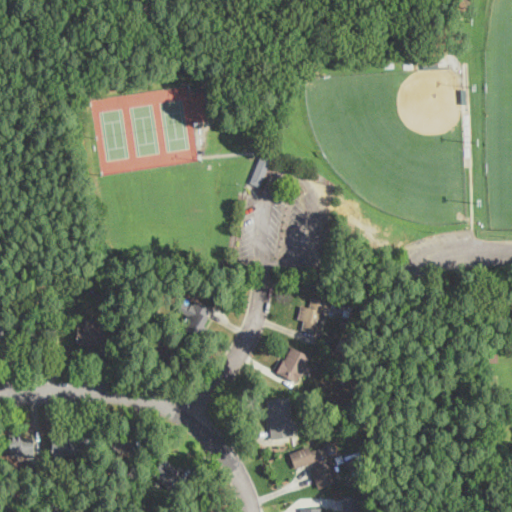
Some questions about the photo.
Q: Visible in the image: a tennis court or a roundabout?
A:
tennis court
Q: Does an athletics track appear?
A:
No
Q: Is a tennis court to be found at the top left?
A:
Yes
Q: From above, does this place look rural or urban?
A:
rural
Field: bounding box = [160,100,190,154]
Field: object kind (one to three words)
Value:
tennis court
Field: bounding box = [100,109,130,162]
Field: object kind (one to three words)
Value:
tennis court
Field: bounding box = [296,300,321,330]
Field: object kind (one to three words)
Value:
house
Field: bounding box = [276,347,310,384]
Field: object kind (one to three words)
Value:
house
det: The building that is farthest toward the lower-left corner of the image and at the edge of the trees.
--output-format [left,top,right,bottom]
[8,438,36,458]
